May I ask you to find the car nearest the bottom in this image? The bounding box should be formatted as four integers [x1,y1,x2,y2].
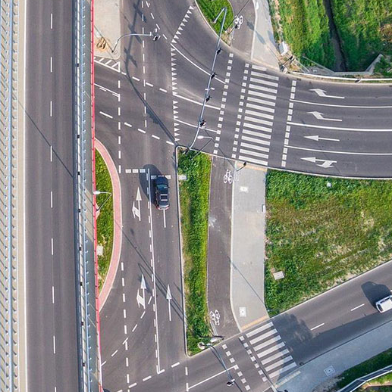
[372,293,392,314]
